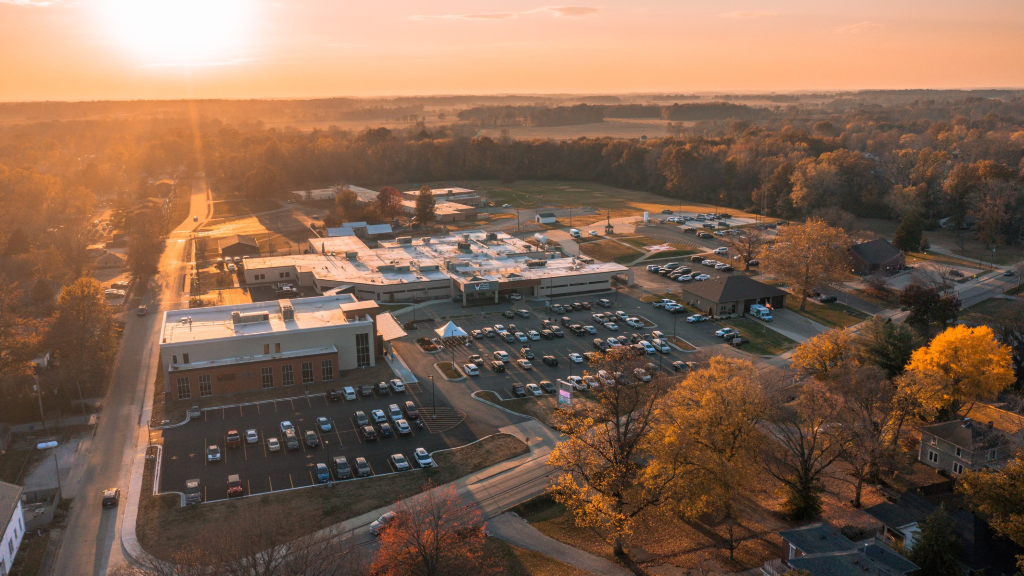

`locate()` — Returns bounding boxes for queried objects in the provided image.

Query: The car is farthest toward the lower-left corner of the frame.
[101,486,121,508]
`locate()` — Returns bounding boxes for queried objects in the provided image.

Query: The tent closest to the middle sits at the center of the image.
[436,321,469,349]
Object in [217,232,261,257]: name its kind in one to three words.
house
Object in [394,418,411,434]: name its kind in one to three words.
car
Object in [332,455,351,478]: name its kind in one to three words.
vehicle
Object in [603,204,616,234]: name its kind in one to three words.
gazebo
